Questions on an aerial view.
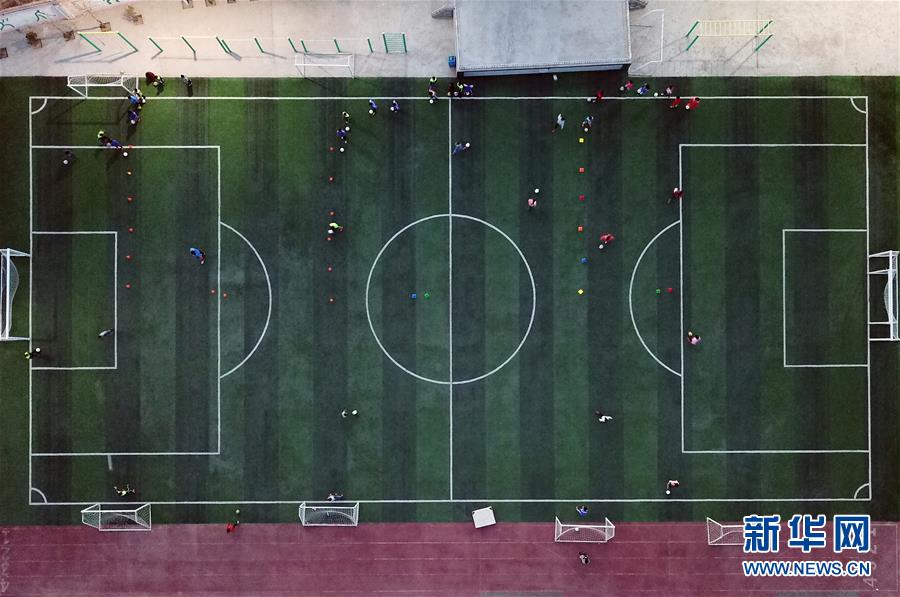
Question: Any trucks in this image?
No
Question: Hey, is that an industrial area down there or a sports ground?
sports ground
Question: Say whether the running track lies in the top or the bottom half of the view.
bottom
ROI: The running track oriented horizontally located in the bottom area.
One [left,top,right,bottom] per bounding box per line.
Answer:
[0,522,900,597]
